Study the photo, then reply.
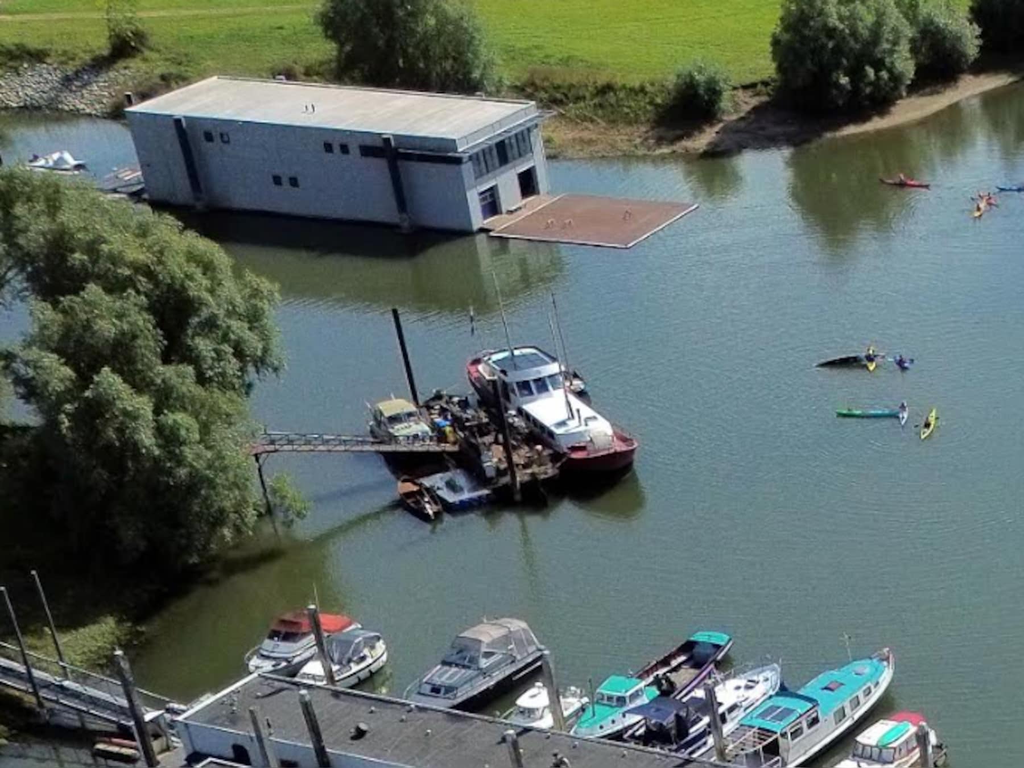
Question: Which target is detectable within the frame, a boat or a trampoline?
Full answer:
There is a boat in the scene.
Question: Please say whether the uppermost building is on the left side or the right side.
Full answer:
The uppermost building sits on the left side.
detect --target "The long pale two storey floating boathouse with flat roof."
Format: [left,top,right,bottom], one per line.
[123,74,556,235]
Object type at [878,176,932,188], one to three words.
boat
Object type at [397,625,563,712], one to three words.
boat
